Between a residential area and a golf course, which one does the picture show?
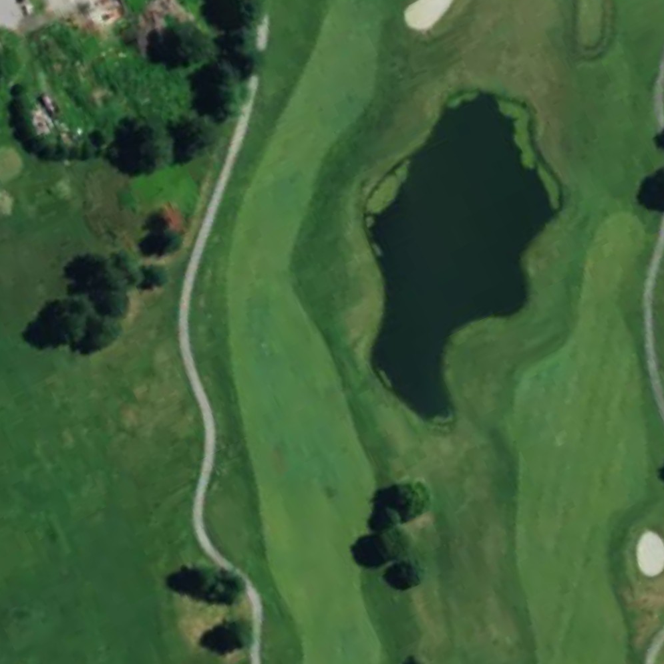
golf course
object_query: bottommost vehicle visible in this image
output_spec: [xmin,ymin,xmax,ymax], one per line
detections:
[42,95,54,110]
